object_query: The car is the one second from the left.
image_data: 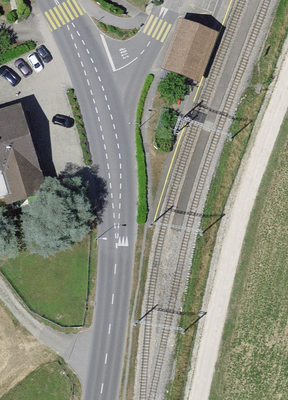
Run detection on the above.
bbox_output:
[14,57,34,78]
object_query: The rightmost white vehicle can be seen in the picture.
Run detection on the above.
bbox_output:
[27,51,44,73]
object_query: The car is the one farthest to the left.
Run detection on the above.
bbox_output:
[0,64,21,87]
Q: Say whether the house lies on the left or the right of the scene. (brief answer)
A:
left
